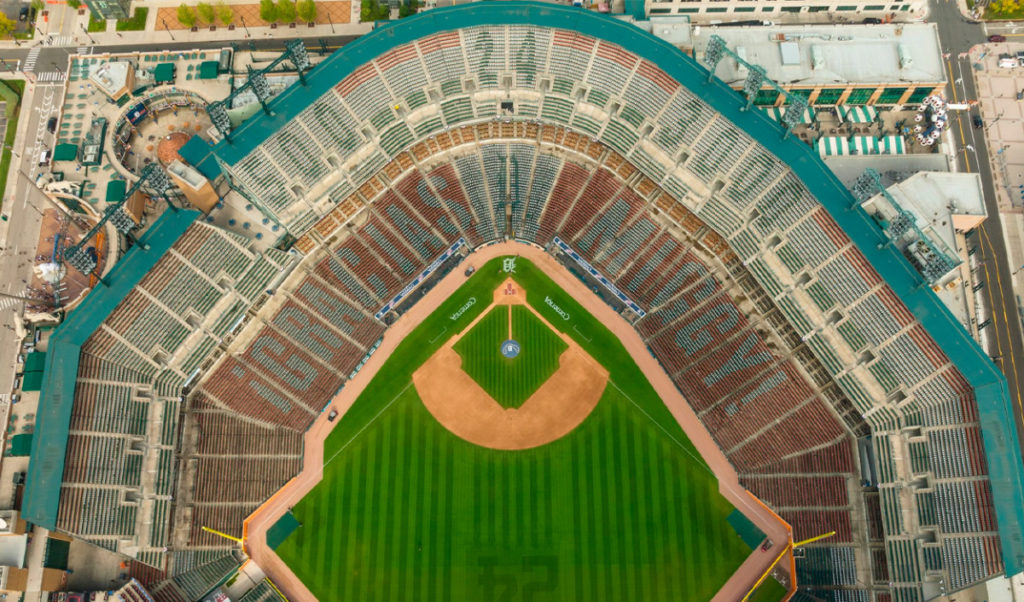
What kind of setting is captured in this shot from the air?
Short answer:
sports ground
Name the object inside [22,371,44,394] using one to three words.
tent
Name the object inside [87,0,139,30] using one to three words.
building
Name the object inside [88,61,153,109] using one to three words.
building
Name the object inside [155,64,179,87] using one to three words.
tent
